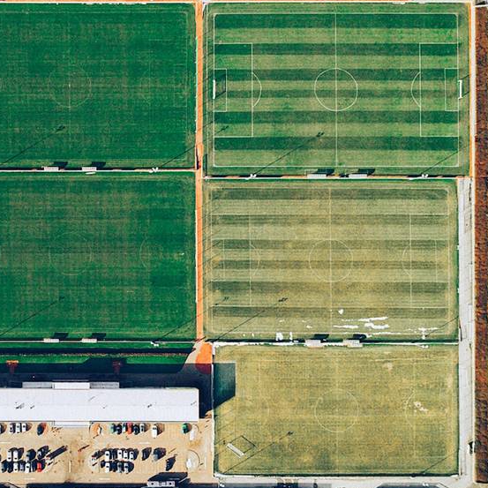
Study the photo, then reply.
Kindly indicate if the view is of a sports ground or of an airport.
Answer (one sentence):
The picture captures a sports ground.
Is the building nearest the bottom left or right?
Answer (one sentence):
The building nearest the bottom sits on the left side.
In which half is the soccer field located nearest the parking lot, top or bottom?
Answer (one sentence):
The soccer field located nearest the parking lot sits in the bottom half of the picture.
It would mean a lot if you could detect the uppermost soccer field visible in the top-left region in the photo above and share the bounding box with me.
[0,3,197,169]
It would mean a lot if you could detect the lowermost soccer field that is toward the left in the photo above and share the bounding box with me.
[0,171,197,340]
